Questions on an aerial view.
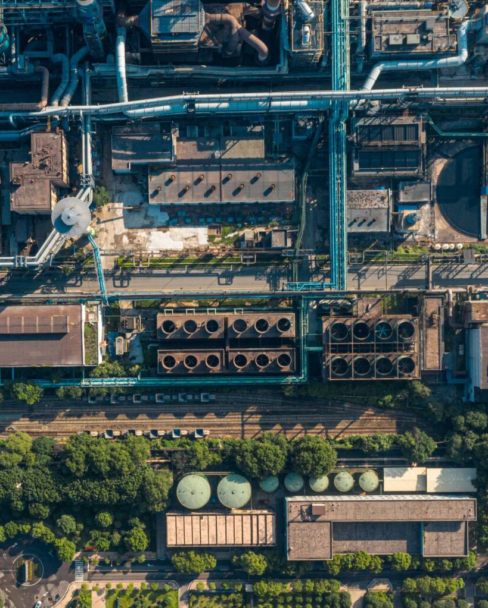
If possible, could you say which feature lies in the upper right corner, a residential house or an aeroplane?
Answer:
residential house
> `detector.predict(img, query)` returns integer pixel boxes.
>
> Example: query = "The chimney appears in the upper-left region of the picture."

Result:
[74,0,111,65]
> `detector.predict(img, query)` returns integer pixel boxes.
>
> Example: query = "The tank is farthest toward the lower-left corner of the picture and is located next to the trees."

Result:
[177,471,211,509]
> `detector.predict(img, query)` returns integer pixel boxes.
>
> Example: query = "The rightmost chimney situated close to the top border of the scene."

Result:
[254,0,284,40]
